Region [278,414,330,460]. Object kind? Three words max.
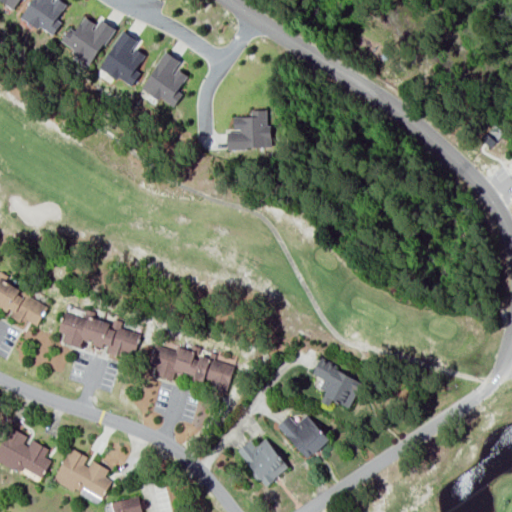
house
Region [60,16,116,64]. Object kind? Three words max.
house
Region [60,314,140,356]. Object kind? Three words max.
building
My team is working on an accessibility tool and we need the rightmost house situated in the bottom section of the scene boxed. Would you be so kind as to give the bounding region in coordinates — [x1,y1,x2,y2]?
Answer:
[312,362,362,410]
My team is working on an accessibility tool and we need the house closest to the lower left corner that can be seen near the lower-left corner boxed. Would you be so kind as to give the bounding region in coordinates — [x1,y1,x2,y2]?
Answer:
[0,431,52,482]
